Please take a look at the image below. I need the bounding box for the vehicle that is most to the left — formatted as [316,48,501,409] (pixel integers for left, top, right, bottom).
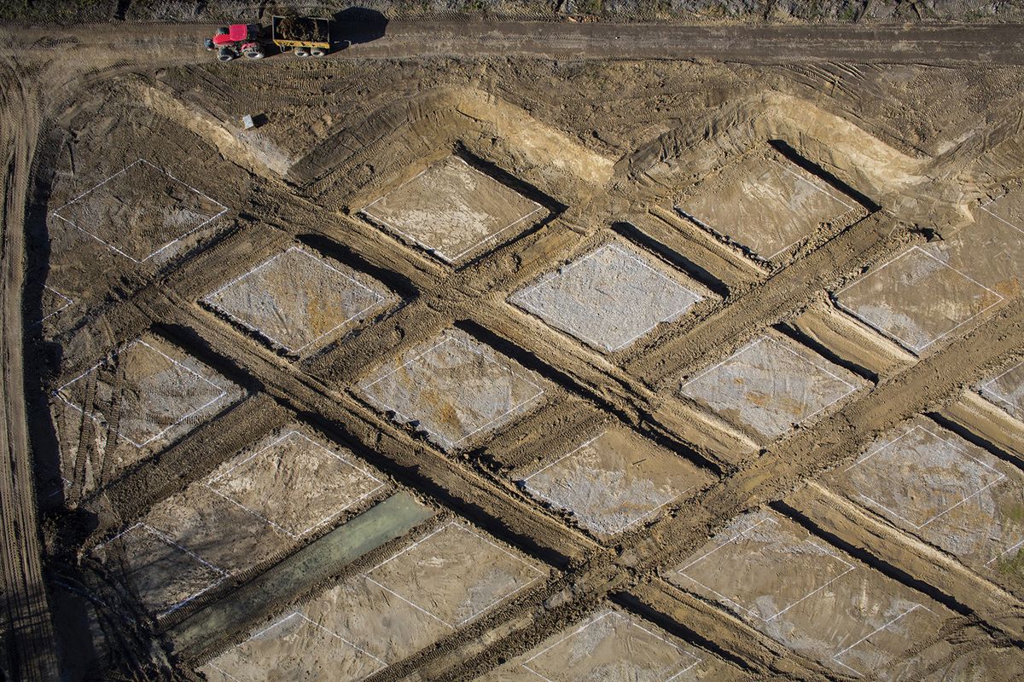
[209,23,267,59]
